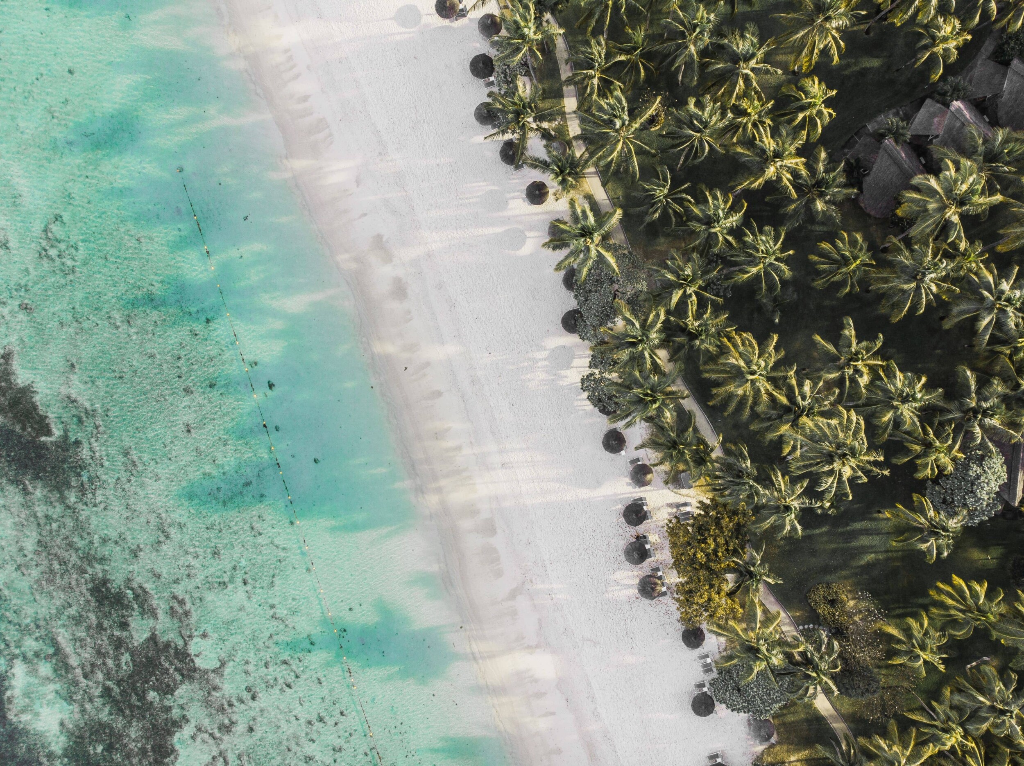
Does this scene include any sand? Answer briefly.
Yes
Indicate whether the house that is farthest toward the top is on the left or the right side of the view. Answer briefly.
right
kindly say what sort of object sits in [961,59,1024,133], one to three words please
house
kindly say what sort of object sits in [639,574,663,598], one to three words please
umbrella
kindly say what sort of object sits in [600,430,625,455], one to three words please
umbrella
